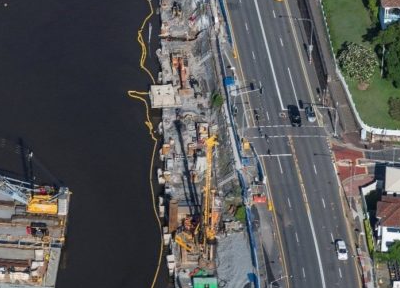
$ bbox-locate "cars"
[334,242,348,260]
[306,108,317,122]
[288,108,302,127]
